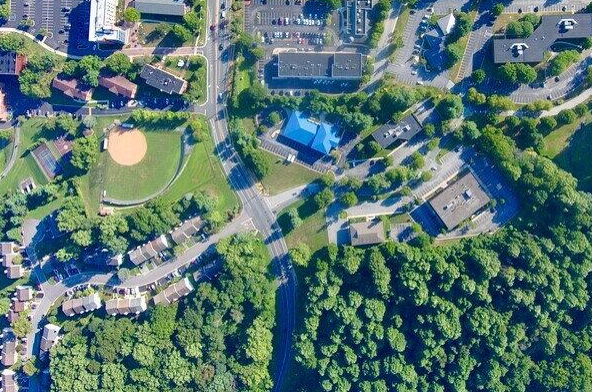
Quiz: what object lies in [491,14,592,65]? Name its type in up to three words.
building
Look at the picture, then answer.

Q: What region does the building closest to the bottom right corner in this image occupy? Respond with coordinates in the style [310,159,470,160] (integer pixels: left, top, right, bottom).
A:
[428,172,492,229]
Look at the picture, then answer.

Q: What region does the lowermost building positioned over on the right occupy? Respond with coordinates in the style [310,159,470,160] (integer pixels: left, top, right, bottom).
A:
[350,216,385,245]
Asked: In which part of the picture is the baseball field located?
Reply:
left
